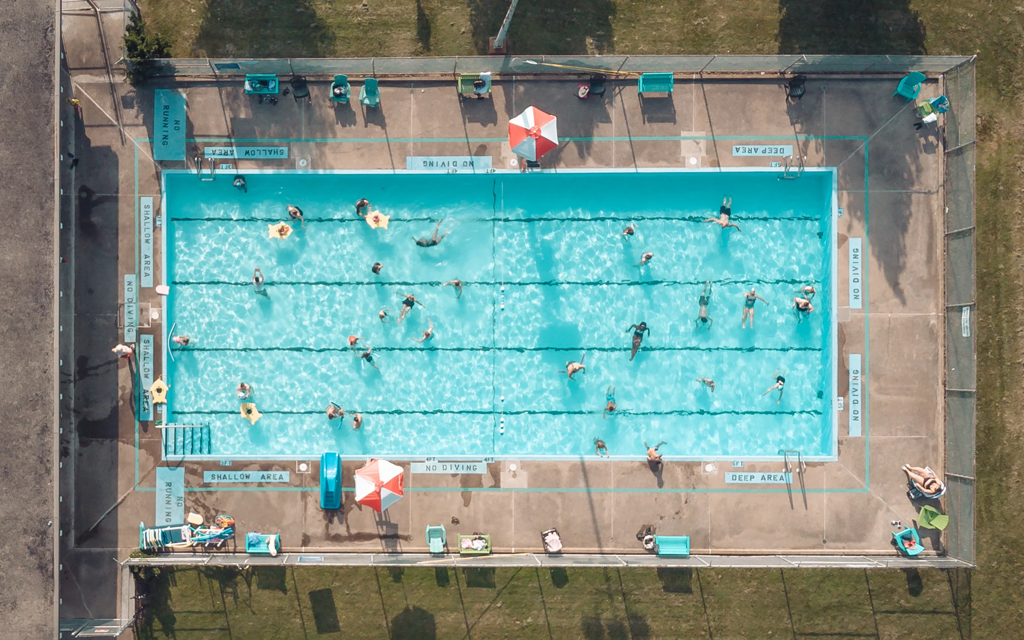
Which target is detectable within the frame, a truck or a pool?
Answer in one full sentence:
There is a pool in the scene.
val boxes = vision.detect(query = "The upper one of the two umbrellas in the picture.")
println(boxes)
[510,108,559,163]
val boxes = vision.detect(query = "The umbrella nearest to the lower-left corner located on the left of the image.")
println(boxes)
[356,457,404,512]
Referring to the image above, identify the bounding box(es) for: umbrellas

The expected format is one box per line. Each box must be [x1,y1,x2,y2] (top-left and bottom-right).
[356,457,404,512]
[510,108,559,163]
